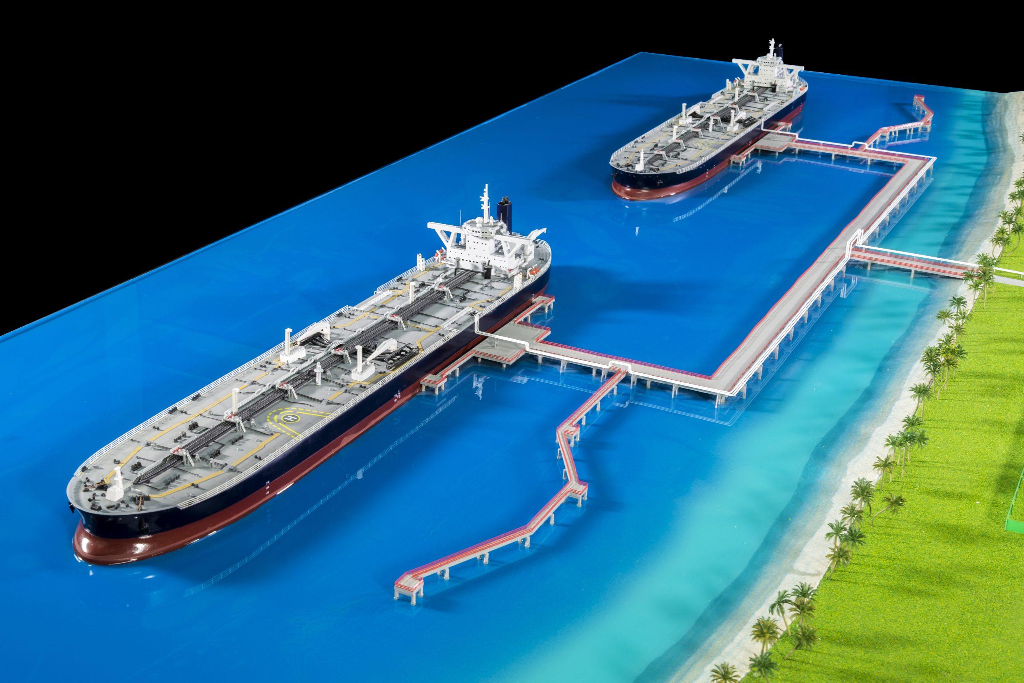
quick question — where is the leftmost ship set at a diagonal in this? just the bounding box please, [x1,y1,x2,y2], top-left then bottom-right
[70,184,551,563]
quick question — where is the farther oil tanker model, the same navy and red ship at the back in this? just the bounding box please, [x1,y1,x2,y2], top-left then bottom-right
[609,31,812,200]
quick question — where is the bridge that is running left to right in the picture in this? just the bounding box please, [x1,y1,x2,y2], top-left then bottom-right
[845,249,1024,291]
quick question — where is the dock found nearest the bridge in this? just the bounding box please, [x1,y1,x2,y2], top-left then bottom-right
[707,160,927,394]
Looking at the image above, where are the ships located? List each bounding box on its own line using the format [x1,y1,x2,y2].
[70,184,551,563]
[609,31,812,200]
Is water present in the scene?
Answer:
Yes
